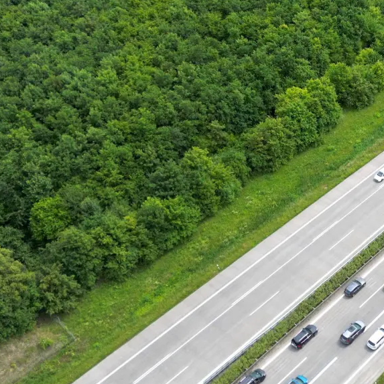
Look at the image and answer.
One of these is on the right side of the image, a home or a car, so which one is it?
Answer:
car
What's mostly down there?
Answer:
trees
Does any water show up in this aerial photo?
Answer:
No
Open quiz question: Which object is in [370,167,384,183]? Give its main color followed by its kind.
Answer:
white vehicle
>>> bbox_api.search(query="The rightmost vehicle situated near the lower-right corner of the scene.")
[365,326,384,352]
